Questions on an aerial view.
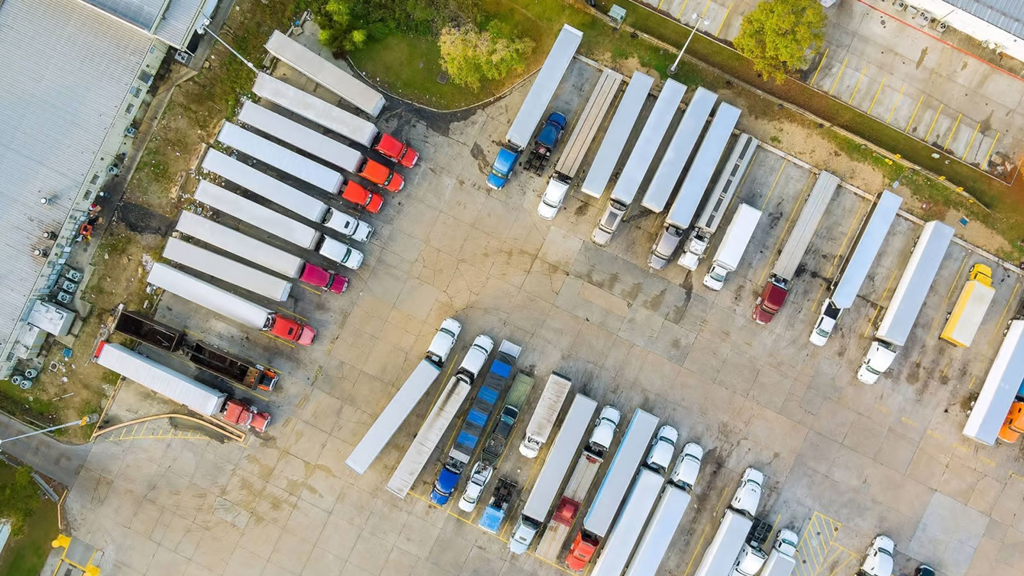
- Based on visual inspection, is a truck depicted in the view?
Yes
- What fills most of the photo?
paved ground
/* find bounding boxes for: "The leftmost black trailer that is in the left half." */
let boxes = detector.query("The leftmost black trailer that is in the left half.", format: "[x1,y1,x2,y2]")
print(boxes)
[114,311,195,351]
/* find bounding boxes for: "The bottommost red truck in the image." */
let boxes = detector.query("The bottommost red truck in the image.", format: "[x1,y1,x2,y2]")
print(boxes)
[566,523,599,570]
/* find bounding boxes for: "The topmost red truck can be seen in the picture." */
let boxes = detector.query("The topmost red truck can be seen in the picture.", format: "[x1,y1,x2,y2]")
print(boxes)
[372,131,419,169]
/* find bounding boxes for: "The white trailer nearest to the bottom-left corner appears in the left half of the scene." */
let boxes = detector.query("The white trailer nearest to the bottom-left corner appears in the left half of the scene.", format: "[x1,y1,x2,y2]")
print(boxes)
[97,340,228,415]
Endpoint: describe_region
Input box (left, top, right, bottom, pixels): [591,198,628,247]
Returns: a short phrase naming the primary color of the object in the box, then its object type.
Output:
white truck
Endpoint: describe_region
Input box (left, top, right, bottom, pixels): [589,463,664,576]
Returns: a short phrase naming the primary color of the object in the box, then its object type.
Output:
white trailer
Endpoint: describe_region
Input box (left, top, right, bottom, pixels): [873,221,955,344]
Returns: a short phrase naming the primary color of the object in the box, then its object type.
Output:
white trailer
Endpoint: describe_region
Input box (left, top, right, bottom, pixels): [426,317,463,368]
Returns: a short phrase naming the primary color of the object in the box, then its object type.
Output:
white truck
